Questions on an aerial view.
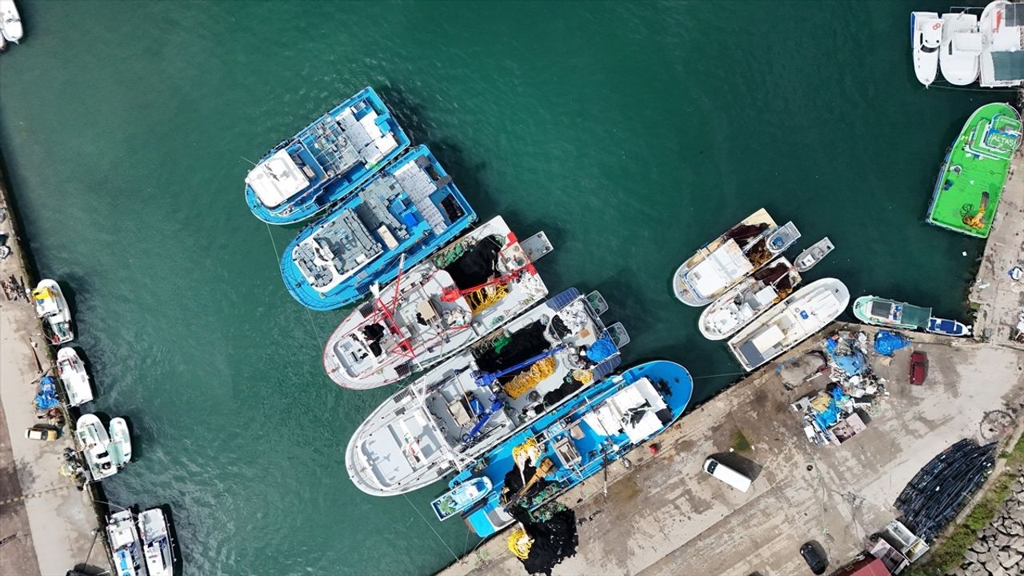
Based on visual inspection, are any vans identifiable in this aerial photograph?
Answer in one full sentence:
Yes, there's a van here.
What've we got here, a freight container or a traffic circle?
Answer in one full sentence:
There is a freight container in the scene.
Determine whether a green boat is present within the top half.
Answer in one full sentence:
Yes, a green boat appears within the top half.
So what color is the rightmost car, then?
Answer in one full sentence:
The color of the rightmost car is red.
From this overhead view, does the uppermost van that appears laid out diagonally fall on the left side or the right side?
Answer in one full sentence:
It is on the right.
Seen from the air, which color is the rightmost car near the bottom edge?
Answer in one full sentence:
The rightmost car near the bottom edge looks black in the image.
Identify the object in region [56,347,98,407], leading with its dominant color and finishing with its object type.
white boat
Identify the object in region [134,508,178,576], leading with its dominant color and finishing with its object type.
white boat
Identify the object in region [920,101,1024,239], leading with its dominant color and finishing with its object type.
green boat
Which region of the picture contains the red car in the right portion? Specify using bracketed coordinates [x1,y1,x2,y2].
[906,350,927,385]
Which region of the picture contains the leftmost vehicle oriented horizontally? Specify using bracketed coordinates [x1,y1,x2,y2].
[26,425,62,442]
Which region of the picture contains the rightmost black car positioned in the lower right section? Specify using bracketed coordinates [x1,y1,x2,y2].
[797,538,827,576]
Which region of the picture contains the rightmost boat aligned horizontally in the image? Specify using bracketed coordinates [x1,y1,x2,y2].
[924,317,969,335]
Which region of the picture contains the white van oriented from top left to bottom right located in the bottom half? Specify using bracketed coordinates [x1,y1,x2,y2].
[699,452,754,494]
